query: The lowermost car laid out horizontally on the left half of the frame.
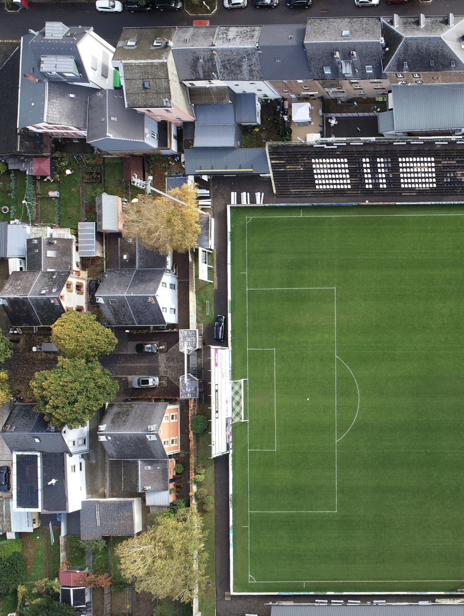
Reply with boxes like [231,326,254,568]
[133,376,158,388]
